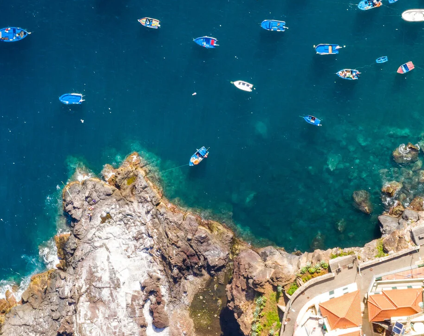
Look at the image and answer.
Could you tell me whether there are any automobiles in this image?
No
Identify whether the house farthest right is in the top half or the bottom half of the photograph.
bottom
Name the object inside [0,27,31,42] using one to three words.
boat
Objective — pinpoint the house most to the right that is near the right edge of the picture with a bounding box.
[367,287,424,324]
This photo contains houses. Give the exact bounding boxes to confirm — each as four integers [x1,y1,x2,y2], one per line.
[367,287,424,324]
[319,285,363,331]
